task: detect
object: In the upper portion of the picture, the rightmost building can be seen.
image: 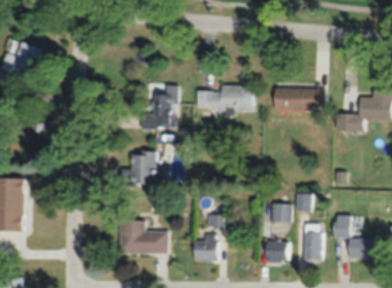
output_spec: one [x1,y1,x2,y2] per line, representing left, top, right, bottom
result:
[335,92,392,132]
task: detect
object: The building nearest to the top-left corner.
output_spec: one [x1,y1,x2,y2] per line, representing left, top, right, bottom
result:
[5,40,42,72]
